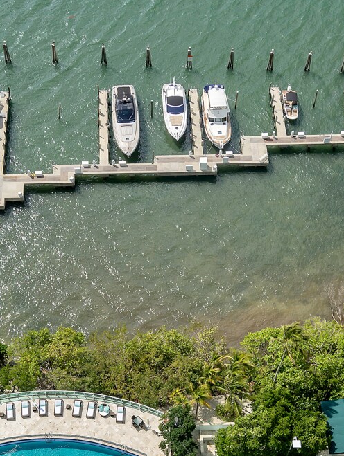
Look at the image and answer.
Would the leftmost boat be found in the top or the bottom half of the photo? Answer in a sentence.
The top half of the photo is where the leftmost boat is.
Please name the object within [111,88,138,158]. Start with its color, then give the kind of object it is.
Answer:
white boat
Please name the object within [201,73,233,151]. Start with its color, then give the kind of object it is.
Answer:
white boat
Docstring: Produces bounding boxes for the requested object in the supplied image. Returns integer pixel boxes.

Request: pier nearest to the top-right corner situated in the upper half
[268,77,288,135]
